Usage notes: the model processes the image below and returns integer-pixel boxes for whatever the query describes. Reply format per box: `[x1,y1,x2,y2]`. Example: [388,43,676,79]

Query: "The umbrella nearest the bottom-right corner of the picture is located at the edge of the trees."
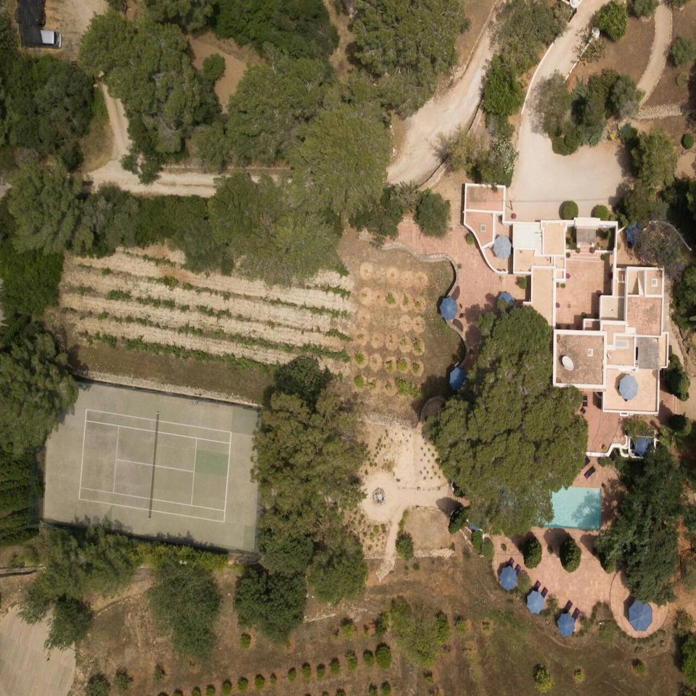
[629,601,651,629]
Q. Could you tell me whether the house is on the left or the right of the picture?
right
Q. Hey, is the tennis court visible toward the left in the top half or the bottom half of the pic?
bottom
